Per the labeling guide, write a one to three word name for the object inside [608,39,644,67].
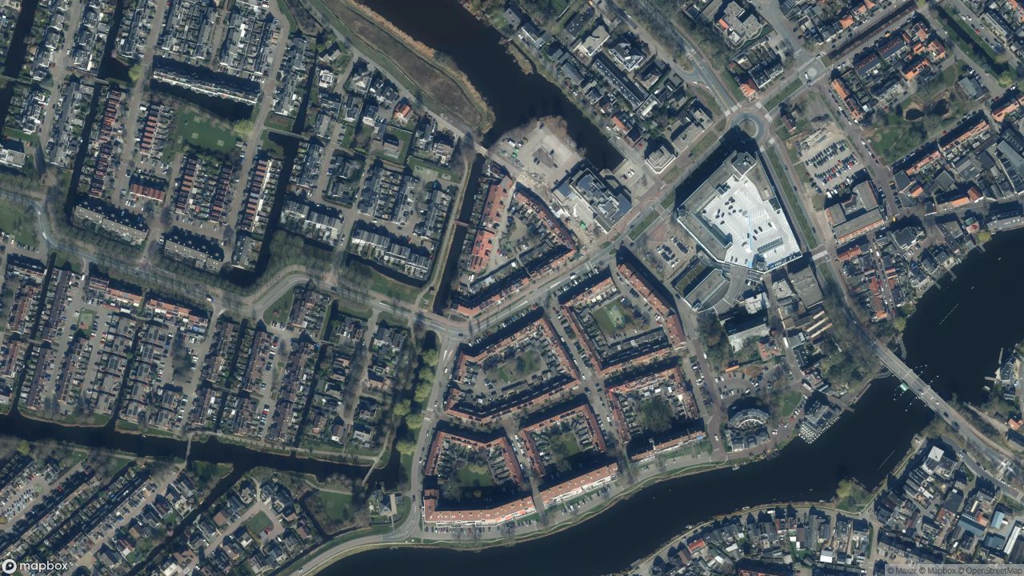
house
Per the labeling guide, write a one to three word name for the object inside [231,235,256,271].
building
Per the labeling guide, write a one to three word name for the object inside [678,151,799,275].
building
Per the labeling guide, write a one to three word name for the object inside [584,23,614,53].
house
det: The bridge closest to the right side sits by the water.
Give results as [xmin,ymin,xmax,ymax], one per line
[869,342,969,437]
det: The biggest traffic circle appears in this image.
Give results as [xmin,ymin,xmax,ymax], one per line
[726,107,769,149]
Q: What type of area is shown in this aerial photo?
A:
residential area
